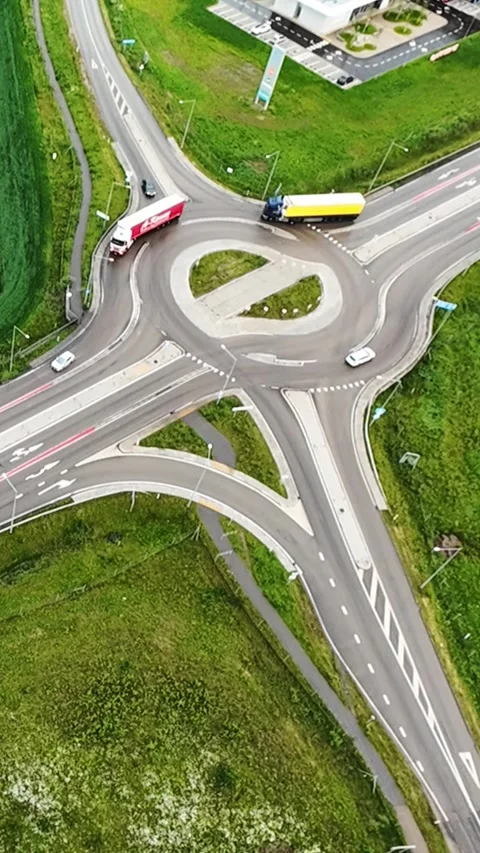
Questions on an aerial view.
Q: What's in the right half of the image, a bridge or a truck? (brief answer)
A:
truck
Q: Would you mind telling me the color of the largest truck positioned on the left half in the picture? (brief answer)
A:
white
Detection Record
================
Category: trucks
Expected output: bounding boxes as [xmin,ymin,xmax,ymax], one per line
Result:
[258,192,368,227]
[108,193,188,259]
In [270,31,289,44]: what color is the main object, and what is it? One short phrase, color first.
white vehicle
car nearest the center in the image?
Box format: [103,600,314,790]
[344,346,378,363]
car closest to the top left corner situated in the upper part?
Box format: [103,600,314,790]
[141,178,157,196]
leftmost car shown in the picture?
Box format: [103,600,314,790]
[48,349,78,372]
